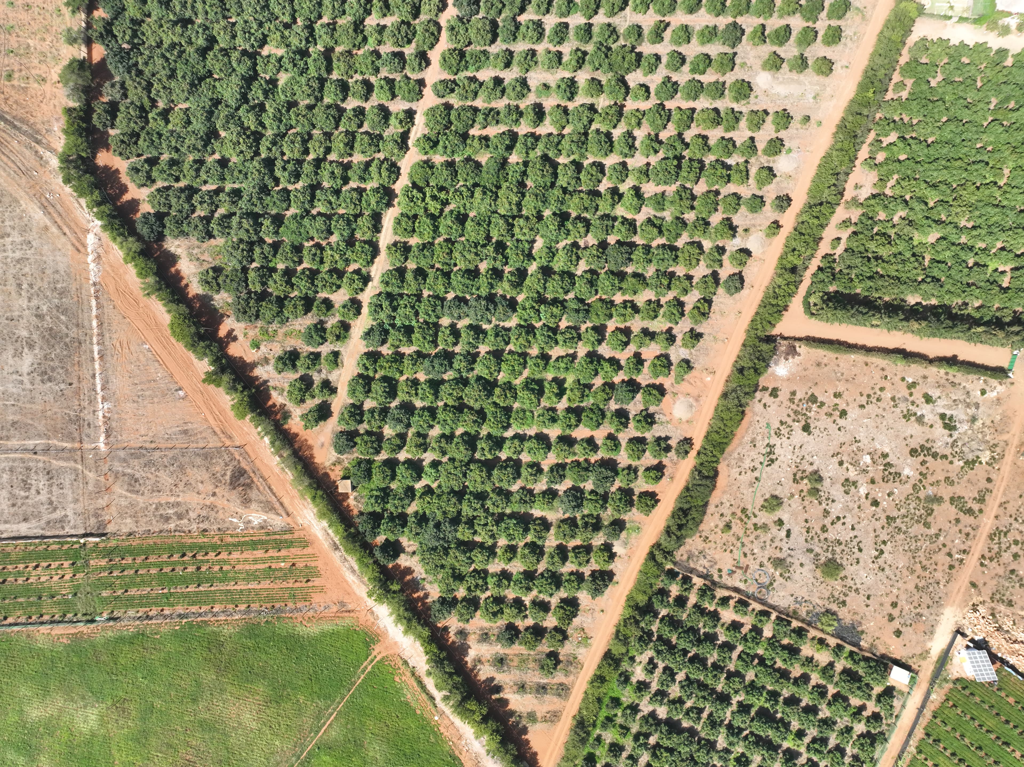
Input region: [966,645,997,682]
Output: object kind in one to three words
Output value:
solar array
